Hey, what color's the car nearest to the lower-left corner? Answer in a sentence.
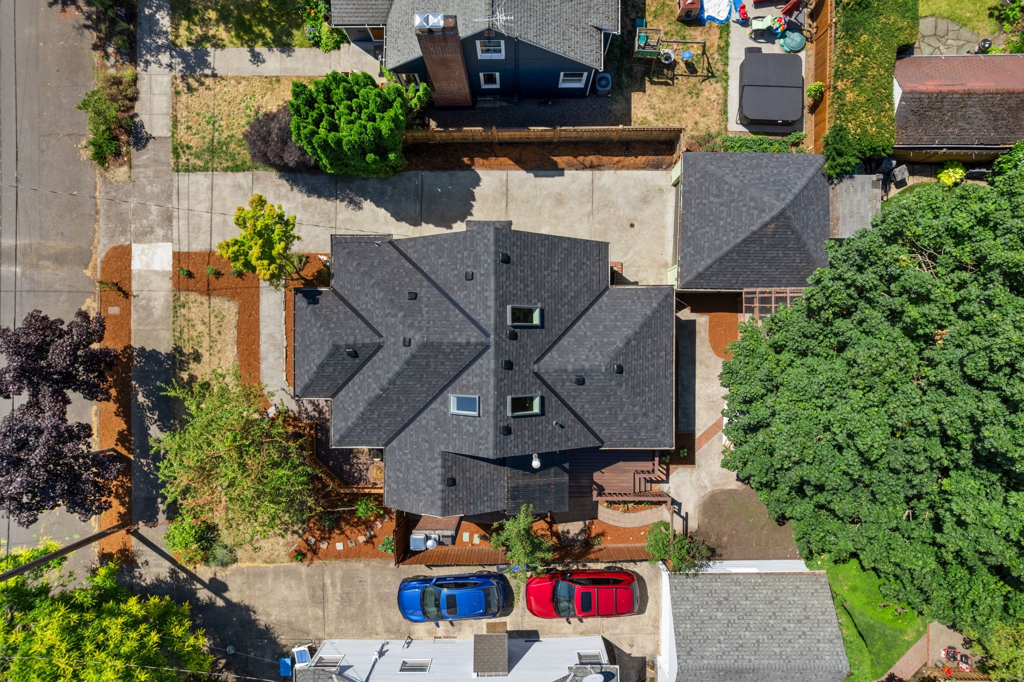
The car nearest to the lower-left corner looks blue in the image.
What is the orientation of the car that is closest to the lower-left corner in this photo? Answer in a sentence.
The car that is closest to the lower-left corner has been laid out horizontally relative to the frame.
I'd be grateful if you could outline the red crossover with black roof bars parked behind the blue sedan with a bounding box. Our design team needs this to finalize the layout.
[527,569,639,627]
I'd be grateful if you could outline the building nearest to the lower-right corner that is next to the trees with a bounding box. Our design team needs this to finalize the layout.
[655,552,850,682]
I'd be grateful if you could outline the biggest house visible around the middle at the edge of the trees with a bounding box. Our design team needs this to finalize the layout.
[292,218,677,550]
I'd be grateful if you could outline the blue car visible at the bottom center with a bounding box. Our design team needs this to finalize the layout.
[398,572,507,630]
